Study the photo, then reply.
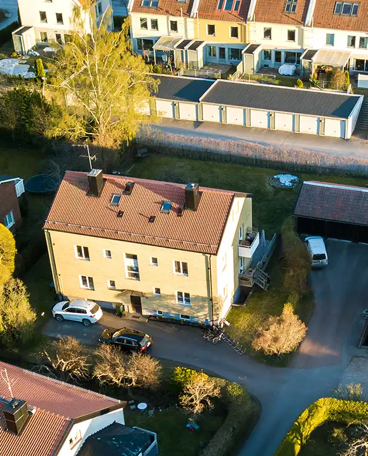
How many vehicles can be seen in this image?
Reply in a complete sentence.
The photo contains 3 vehicles.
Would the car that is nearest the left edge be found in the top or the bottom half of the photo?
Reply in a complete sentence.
Seen from above, the car that is nearest the left edge lies in the bottom half of the view.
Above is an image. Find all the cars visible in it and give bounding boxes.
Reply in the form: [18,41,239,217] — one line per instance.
[97,327,157,357]
[50,299,108,330]
[304,239,330,269]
